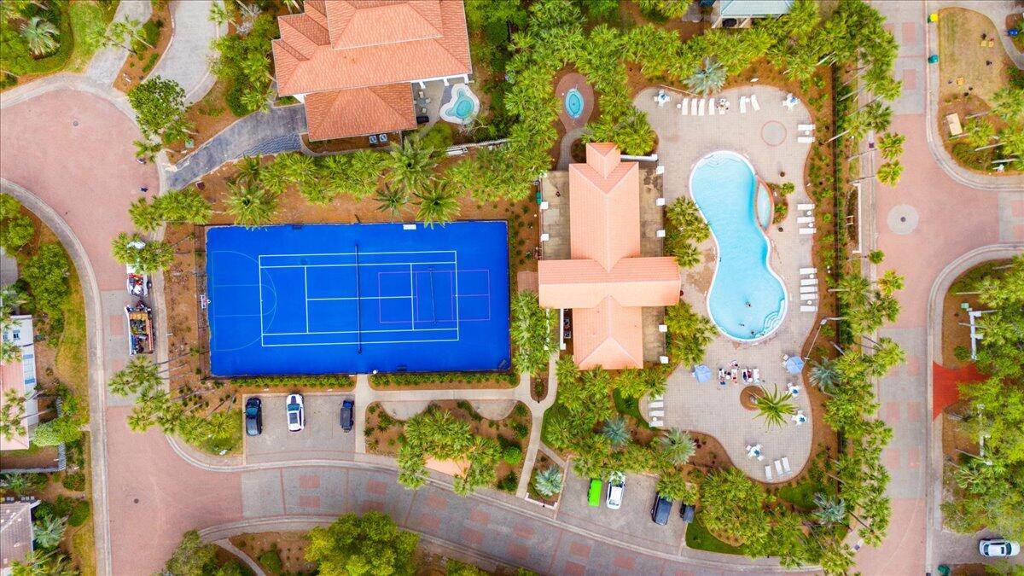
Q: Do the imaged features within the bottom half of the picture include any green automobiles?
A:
Yes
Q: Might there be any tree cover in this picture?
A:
Yes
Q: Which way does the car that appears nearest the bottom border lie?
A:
horizontally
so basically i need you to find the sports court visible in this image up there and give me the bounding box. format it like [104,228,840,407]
[205,220,512,379]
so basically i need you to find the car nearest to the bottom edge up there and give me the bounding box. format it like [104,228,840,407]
[980,539,1020,560]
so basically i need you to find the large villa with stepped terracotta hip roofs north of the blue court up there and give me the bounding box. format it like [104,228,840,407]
[271,0,472,142]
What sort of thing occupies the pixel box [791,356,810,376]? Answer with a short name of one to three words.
umbrella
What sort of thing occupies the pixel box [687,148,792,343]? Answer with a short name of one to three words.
swimming pool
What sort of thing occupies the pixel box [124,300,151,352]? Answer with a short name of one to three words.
trailer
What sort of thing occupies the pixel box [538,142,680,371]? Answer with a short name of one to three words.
building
